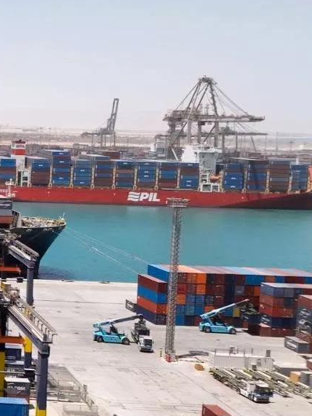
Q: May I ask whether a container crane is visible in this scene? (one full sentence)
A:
Yes, a container crane is visible in the scene.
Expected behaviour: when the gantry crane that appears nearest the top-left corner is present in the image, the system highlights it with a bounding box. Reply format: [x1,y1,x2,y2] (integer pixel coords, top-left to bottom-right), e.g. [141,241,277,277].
[82,103,118,153]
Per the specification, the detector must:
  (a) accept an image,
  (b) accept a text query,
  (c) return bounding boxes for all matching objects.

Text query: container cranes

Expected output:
[0,232,42,390]
[167,99,262,164]
[82,103,118,153]
[0,285,60,416]
[163,78,271,164]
